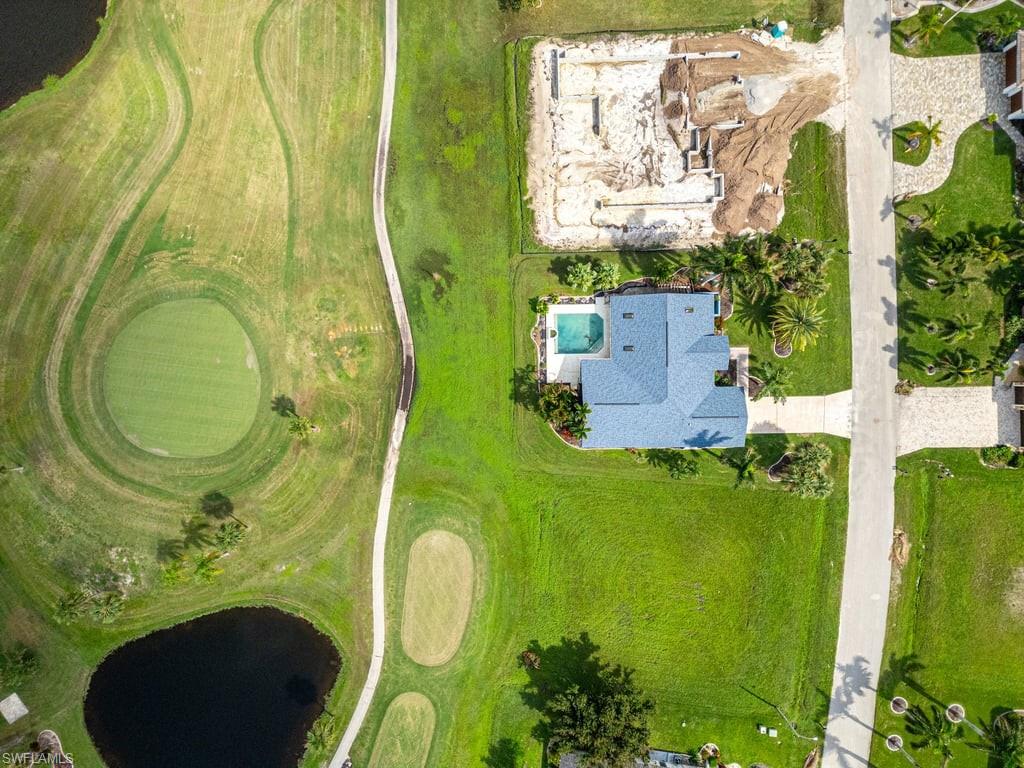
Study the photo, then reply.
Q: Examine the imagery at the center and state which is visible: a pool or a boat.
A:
pool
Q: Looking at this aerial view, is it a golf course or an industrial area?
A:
golf course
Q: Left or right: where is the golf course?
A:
left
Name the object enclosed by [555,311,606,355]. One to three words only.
swimming pool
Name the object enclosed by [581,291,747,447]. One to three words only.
house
